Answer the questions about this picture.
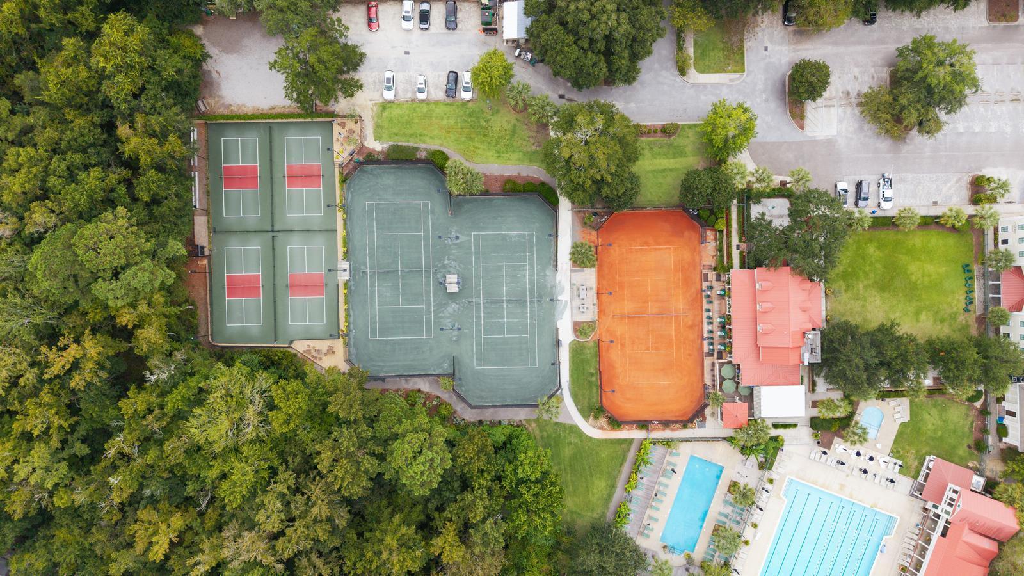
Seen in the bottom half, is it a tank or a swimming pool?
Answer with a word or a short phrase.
swimming pool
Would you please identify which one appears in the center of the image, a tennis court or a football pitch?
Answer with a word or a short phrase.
tennis court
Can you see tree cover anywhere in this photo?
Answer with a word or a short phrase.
Yes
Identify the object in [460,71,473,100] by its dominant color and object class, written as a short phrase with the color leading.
white vehicle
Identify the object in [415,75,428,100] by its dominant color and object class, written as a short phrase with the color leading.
white vehicle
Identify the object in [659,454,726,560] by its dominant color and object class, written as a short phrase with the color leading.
blue swimming pool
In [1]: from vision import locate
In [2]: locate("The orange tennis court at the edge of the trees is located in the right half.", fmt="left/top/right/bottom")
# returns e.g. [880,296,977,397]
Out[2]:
[598,210,705,421]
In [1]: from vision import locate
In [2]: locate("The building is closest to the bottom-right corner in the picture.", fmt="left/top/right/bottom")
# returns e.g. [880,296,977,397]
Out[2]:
[895,458,1020,576]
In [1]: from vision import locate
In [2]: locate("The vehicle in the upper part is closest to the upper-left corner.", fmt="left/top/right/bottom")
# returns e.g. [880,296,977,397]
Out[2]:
[367,2,380,32]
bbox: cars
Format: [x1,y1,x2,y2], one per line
[418,2,431,30]
[854,180,870,207]
[445,1,458,31]
[863,3,878,26]
[445,71,458,98]
[367,2,380,32]
[460,71,473,100]
[834,181,849,202]
[782,0,794,25]
[415,75,428,100]
[401,1,415,30]
[382,71,396,100]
